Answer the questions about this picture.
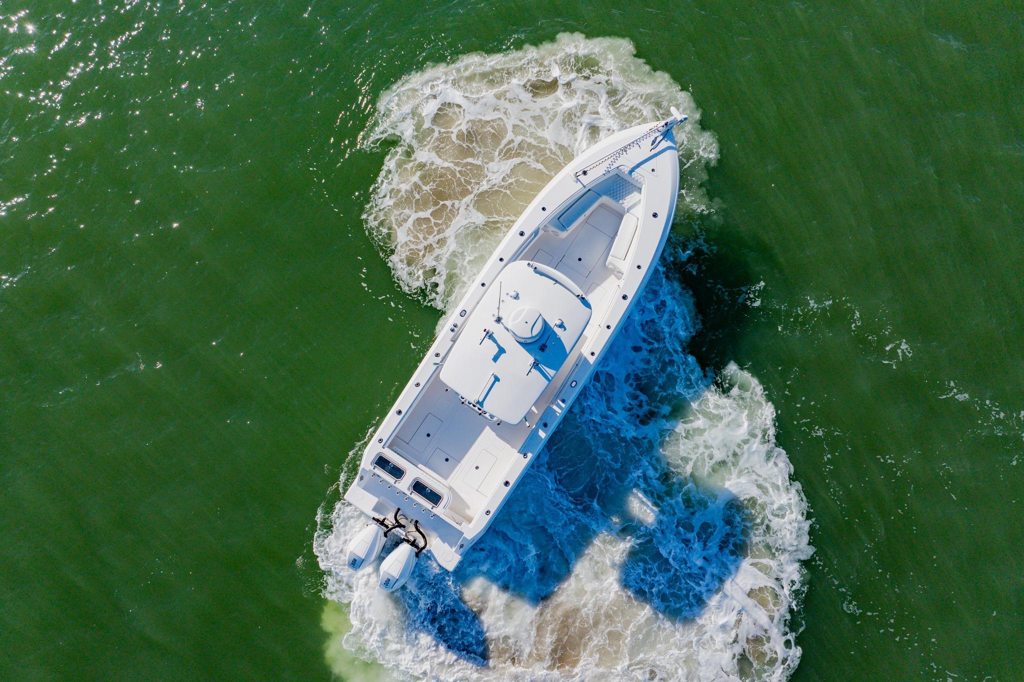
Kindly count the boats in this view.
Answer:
1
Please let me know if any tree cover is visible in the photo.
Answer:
No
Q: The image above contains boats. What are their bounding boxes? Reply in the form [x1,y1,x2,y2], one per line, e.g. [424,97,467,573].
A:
[346,108,688,590]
